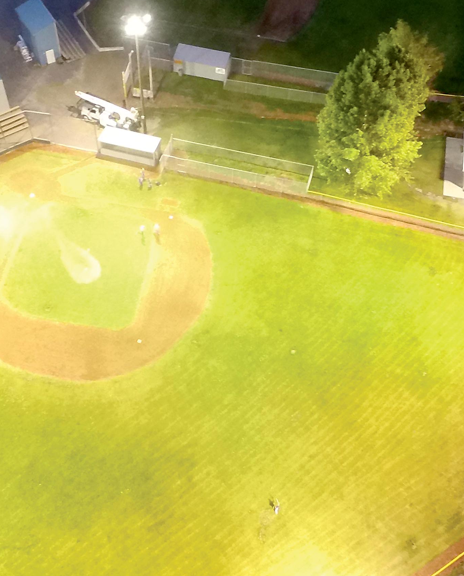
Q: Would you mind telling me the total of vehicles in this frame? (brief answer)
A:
1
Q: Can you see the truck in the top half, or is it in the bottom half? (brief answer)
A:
top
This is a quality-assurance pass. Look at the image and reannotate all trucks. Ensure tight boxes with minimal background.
[75,85,141,130]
